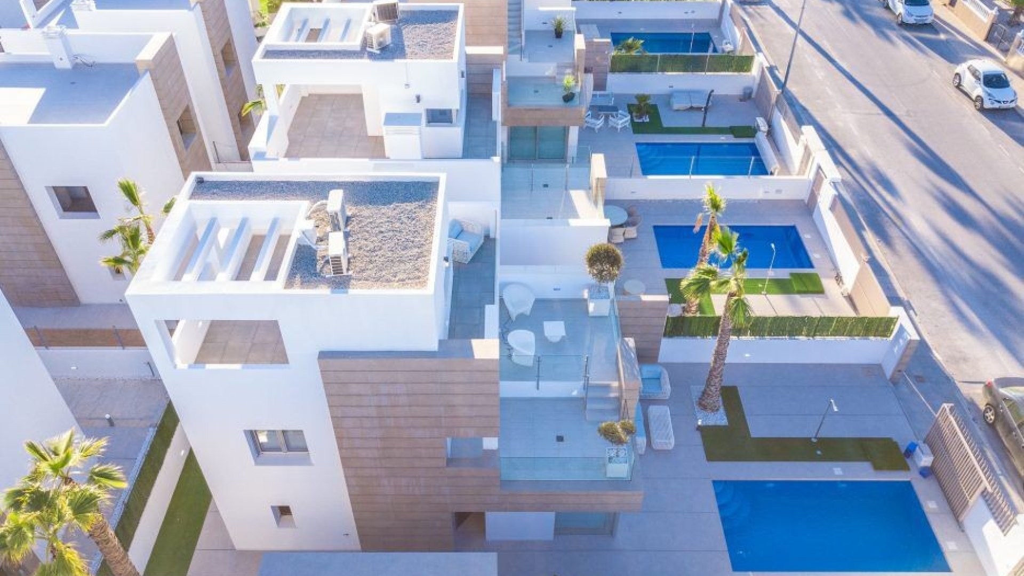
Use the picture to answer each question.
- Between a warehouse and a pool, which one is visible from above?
pool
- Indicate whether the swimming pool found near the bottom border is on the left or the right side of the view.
right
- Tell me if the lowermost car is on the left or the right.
right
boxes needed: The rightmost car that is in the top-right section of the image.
[951,55,1019,104]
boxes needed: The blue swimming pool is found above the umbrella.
[608,31,722,54]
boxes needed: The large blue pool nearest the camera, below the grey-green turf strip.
[708,476,957,576]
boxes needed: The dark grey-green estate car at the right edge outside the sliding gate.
[984,379,1024,469]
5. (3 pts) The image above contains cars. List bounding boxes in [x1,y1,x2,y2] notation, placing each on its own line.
[951,55,1019,104]
[984,379,1024,469]
[882,0,937,21]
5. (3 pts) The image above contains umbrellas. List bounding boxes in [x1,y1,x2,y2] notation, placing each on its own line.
[698,84,718,128]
